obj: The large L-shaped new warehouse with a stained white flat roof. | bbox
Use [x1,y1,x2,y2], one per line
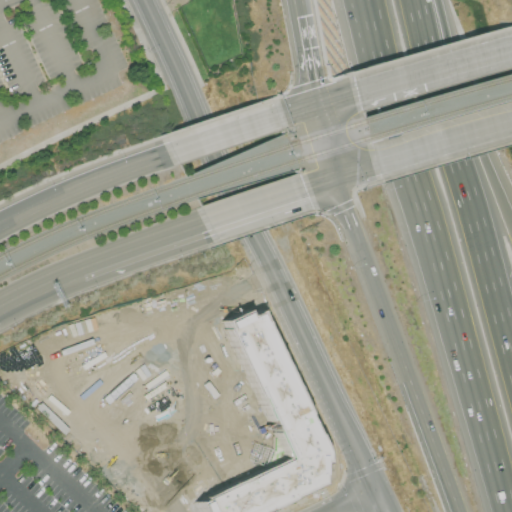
[196,310,336,512]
